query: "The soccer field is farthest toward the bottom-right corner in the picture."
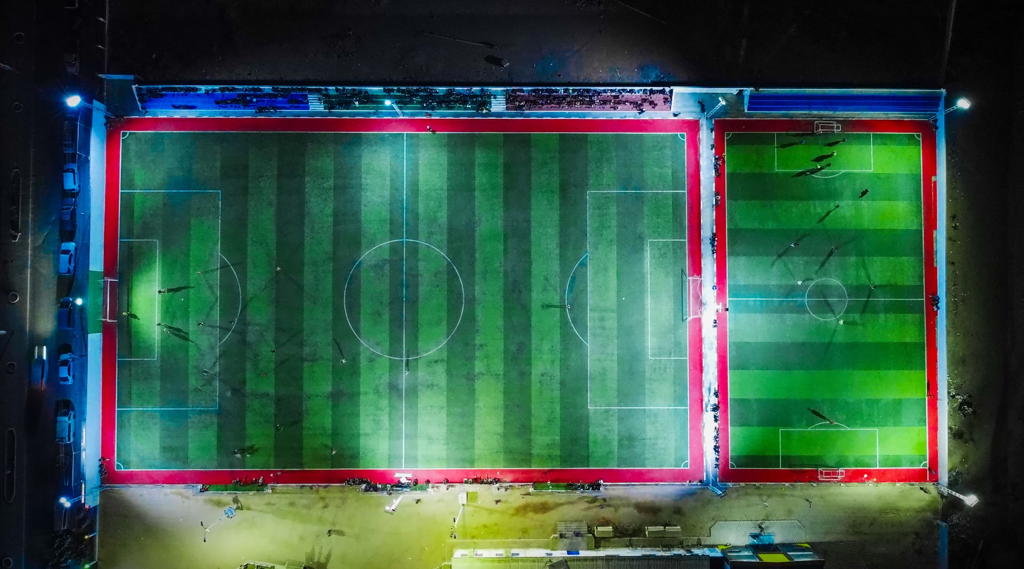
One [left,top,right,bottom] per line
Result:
[716,119,938,483]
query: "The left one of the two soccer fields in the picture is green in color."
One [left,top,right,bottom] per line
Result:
[101,118,703,485]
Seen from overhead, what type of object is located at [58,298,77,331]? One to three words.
car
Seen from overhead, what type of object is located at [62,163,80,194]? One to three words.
car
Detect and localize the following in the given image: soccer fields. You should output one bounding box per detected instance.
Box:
[716,119,938,483]
[101,118,703,485]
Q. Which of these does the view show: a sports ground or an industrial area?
sports ground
